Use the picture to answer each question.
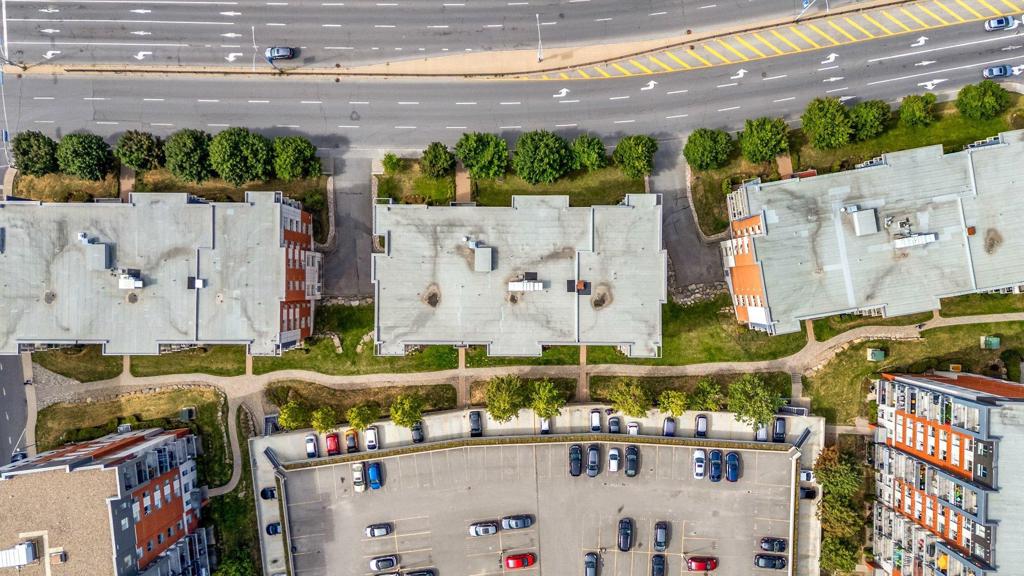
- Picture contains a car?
Yes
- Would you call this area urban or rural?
urban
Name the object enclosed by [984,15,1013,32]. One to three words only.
car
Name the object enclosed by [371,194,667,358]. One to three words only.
building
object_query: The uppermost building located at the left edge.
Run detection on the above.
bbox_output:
[0,192,326,356]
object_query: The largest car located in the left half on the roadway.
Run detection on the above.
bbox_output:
[266,45,294,60]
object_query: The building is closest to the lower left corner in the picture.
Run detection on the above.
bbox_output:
[0,427,213,576]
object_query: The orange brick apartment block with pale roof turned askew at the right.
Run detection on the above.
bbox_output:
[703,129,1024,336]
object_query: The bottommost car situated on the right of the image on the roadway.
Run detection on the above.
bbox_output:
[981,64,1011,80]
